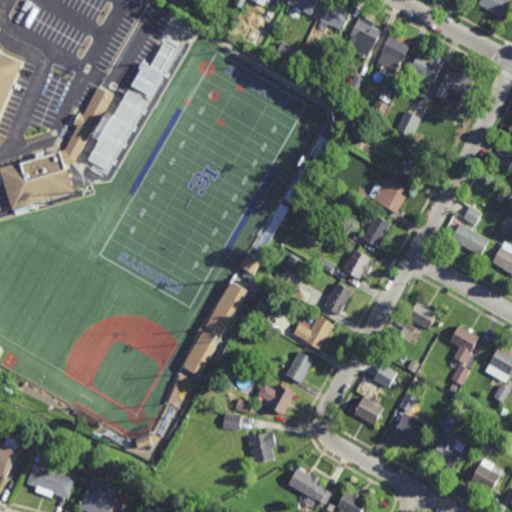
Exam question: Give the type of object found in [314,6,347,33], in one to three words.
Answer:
house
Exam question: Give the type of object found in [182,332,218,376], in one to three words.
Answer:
building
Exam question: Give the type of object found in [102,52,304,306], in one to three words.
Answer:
sports field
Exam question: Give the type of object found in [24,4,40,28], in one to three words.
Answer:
vehicle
